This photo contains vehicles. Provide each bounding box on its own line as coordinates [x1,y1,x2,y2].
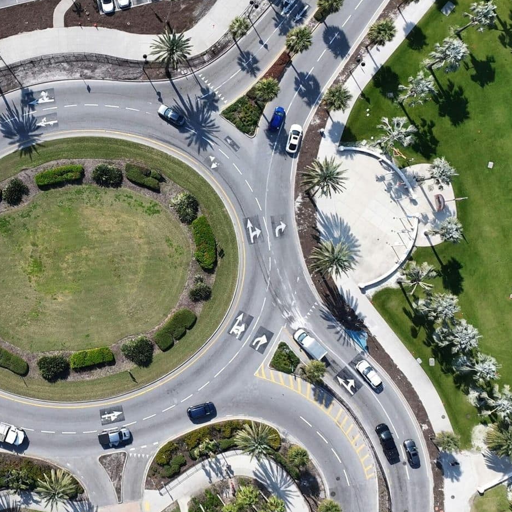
[185,403,216,420]
[293,327,331,365]
[268,106,283,133]
[401,436,420,469]
[356,359,382,390]
[284,123,302,155]
[98,429,131,445]
[99,0,114,16]
[375,424,397,464]
[117,0,129,10]
[157,104,187,127]
[0,420,28,444]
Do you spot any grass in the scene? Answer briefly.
Yes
